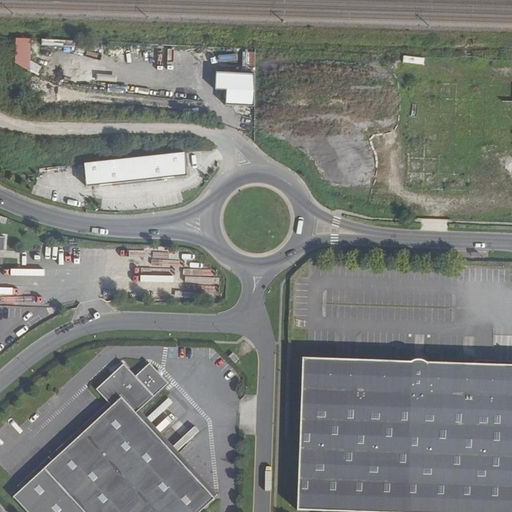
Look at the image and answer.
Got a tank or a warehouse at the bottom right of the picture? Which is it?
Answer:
warehouse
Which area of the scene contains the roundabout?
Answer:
center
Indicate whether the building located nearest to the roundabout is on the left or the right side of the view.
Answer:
left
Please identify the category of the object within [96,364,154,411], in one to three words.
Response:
building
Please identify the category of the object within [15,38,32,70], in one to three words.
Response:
shed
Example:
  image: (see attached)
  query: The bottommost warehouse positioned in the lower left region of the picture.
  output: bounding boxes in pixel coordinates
[14,397,214,512]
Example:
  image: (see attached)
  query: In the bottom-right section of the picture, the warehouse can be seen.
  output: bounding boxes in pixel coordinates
[296,356,512,512]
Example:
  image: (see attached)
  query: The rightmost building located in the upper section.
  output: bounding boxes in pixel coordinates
[216,71,254,106]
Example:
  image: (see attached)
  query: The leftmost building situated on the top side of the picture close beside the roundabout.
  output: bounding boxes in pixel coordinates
[84,152,186,188]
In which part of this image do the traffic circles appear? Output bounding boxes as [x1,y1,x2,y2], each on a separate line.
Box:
[201,164,313,276]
